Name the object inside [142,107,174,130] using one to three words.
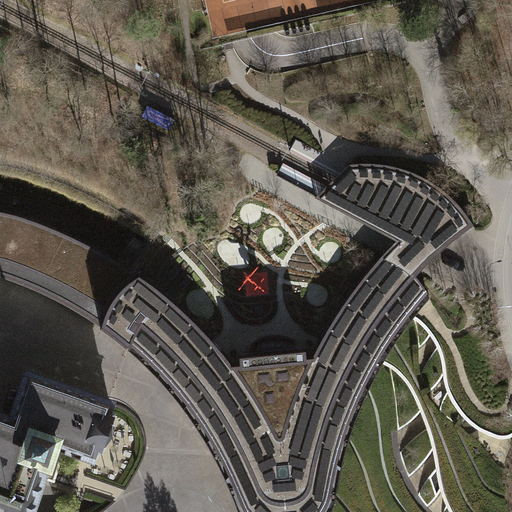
building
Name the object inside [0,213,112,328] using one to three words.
building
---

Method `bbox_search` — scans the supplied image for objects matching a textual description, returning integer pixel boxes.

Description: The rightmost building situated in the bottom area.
[101,164,472,512]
